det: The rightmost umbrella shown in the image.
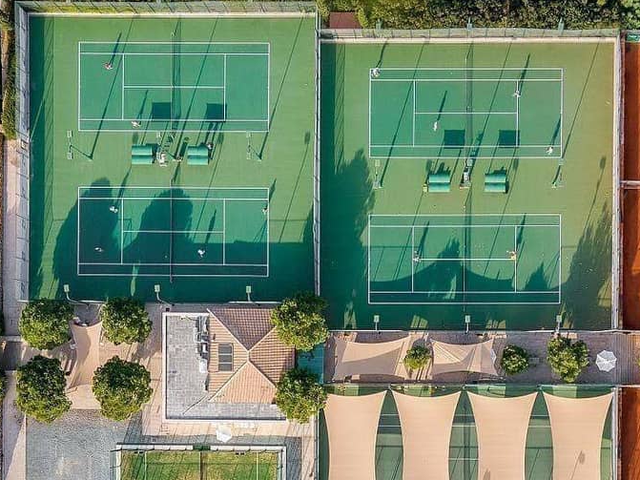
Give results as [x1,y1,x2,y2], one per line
[595,349,616,371]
